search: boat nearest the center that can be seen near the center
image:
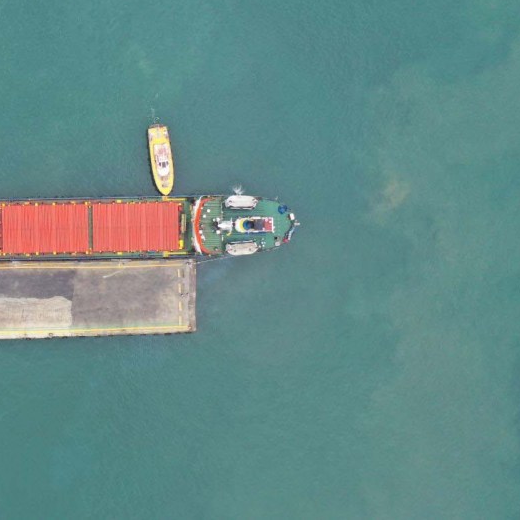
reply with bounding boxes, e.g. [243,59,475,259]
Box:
[226,241,258,254]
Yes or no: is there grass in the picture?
No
